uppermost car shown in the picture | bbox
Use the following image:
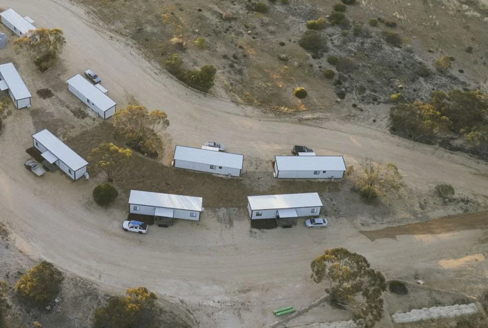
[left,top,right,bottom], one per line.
[85,71,100,83]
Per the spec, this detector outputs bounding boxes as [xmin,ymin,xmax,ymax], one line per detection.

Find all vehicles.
[122,220,148,234]
[292,145,313,156]
[85,71,100,83]
[205,142,225,152]
[25,161,45,176]
[305,218,329,229]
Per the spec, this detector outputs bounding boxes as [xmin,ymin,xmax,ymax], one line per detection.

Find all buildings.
[0,61,34,109]
[274,152,347,180]
[247,190,323,227]
[67,74,119,119]
[128,188,203,227]
[0,8,39,38]
[31,127,90,180]
[174,145,243,179]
